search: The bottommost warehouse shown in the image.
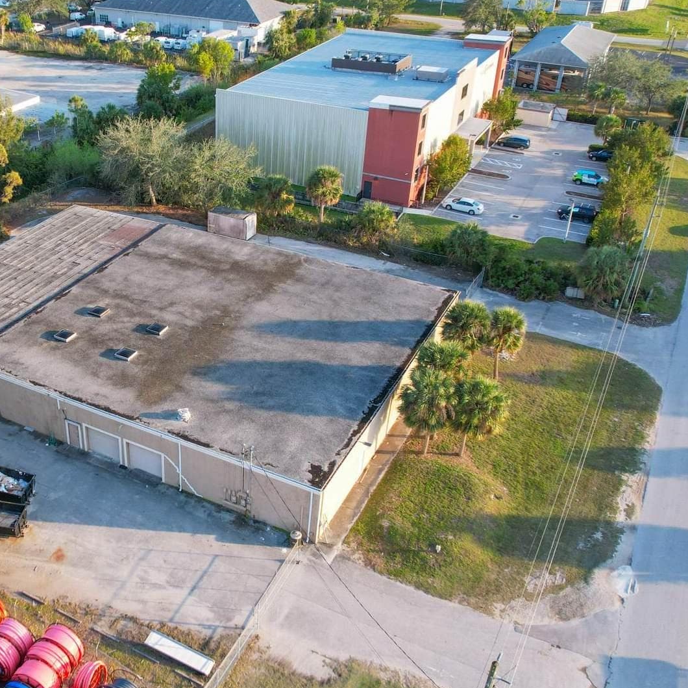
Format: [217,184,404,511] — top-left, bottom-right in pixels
[0,205,458,543]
